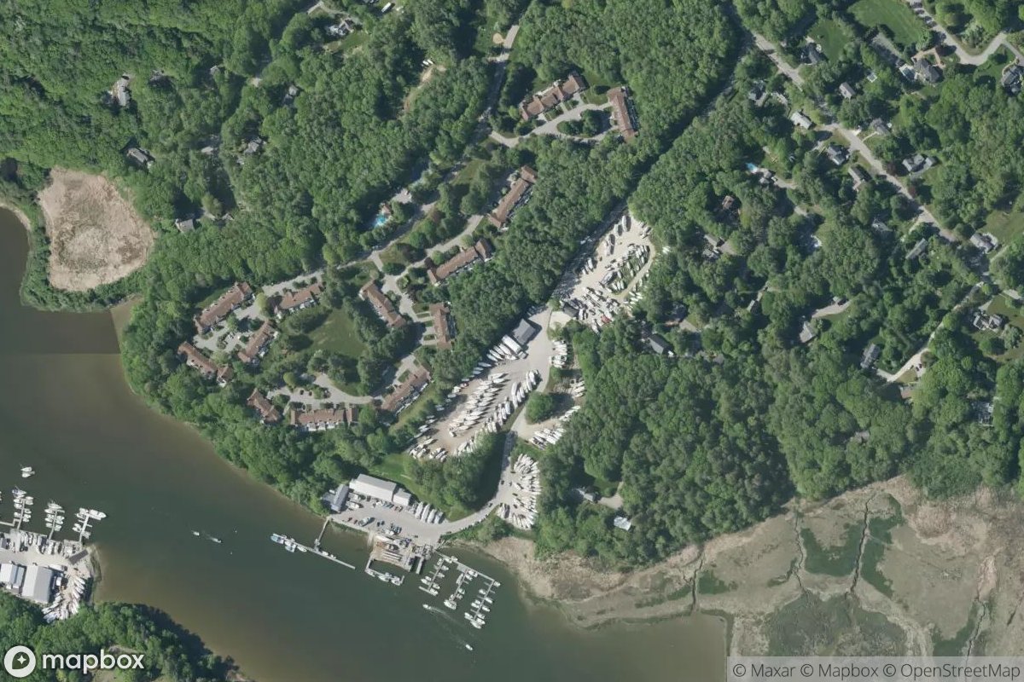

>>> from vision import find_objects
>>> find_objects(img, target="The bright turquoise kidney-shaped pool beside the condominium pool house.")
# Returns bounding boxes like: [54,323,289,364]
[370,210,390,227]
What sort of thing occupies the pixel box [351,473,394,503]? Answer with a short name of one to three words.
shed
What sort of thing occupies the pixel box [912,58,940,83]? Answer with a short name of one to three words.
house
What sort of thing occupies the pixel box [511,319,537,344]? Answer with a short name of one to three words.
building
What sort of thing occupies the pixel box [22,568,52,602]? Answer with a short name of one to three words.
shed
